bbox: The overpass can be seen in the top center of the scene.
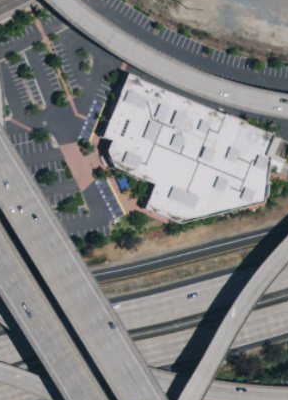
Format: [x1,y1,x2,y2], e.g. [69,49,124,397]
[43,0,288,119]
